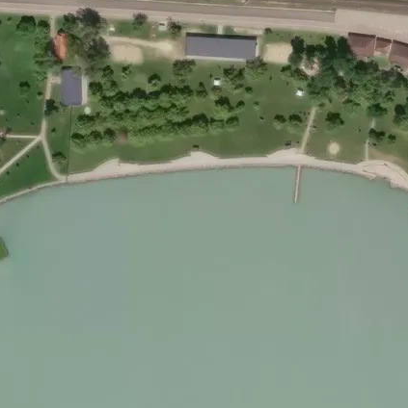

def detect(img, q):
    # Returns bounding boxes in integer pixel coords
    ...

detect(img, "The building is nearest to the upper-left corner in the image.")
[54,32,68,61]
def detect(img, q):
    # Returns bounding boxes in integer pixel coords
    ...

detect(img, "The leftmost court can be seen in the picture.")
[111,43,142,63]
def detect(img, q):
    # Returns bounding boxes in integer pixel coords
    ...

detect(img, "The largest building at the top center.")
[185,35,258,59]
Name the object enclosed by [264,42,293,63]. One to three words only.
sports court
